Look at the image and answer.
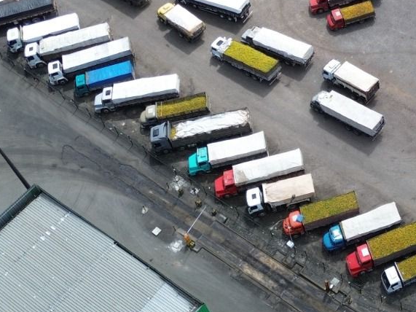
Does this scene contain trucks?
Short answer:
Yes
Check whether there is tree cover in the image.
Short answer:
No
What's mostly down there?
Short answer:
paved ground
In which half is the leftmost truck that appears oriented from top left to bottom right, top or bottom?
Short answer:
top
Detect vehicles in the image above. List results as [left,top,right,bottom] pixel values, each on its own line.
[0,0,61,33]
[47,38,140,90]
[6,13,86,59]
[152,109,255,158]
[70,60,139,104]
[241,27,316,72]
[319,1,376,36]
[183,132,272,181]
[242,174,318,220]
[303,0,377,19]
[322,58,381,105]
[315,203,402,262]
[156,0,208,43]
[174,0,253,24]
[134,95,213,134]
[90,74,185,118]
[376,254,416,298]
[339,223,416,281]
[210,38,281,84]
[25,22,117,72]
[313,90,385,143]
[275,191,360,245]
[208,149,307,205]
